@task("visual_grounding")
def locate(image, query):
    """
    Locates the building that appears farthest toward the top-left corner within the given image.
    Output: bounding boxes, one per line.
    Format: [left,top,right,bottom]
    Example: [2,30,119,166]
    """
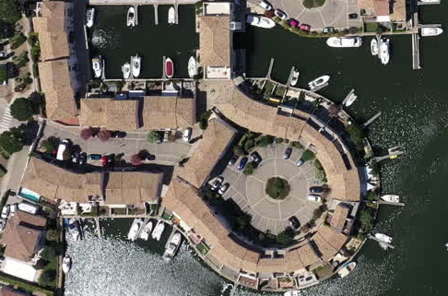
[32,1,79,61]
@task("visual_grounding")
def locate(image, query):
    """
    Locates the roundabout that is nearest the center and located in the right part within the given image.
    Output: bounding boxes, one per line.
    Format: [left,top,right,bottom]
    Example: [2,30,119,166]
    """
[231,144,320,232]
